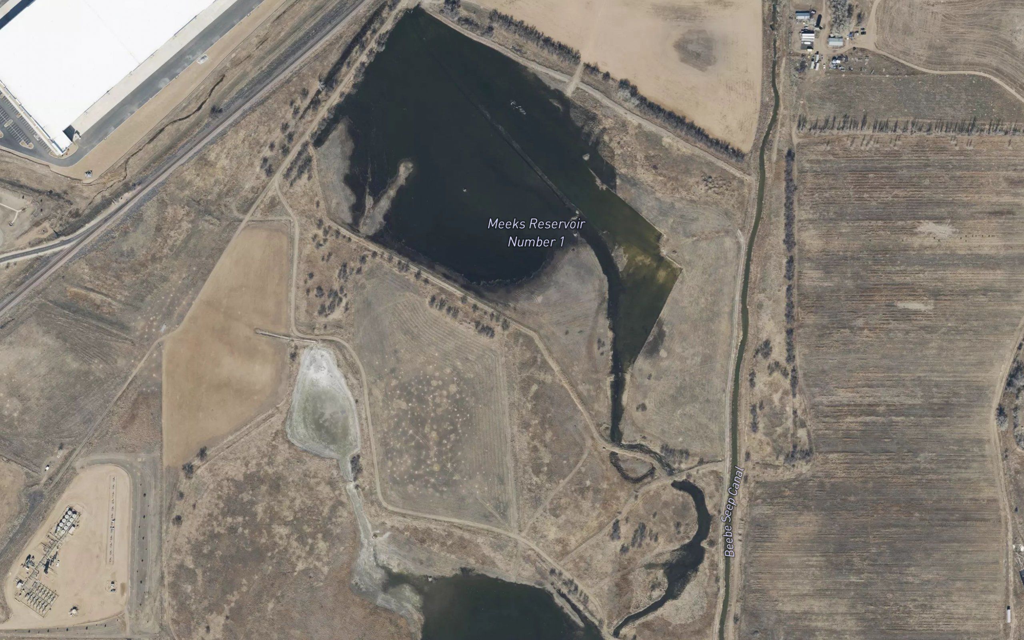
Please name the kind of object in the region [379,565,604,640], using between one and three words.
pond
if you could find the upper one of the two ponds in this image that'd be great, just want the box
[314,6,682,444]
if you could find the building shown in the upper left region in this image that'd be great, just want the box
[0,0,217,156]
